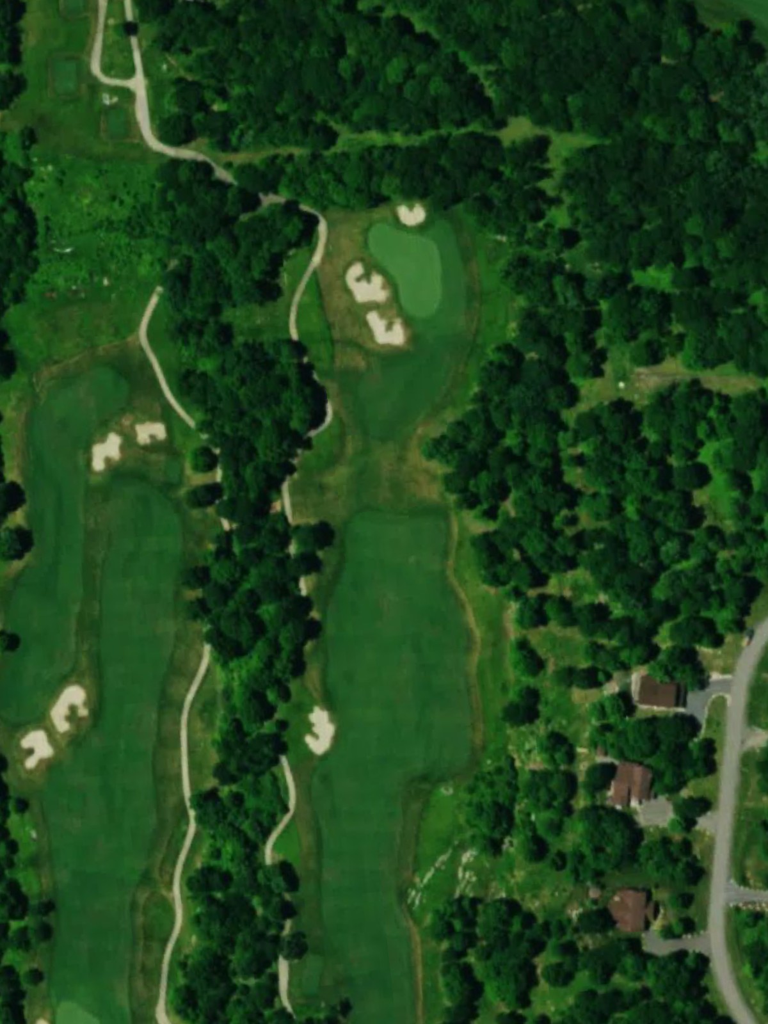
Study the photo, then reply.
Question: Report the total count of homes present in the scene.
3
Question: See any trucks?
No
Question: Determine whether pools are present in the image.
No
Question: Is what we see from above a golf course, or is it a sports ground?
golf course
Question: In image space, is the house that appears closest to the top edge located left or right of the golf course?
right of it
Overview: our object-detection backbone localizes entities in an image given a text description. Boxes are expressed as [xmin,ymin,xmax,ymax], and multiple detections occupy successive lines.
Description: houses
[608,890,654,932]
[612,760,654,807]
[632,671,682,708]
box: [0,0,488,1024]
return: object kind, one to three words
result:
golf course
